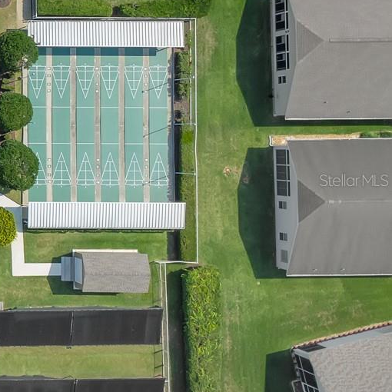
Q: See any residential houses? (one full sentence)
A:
Yes, there is a residential house in the image.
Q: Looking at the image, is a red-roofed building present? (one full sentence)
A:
No, no red-roofed building can be seen from above.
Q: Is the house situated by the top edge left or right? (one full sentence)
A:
The house situated by the top edge appears in the right half of the scene.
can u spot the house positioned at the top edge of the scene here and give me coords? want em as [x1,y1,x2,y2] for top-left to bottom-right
[273,0,392,120]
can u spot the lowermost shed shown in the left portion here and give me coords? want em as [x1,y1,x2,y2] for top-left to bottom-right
[60,249,153,294]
